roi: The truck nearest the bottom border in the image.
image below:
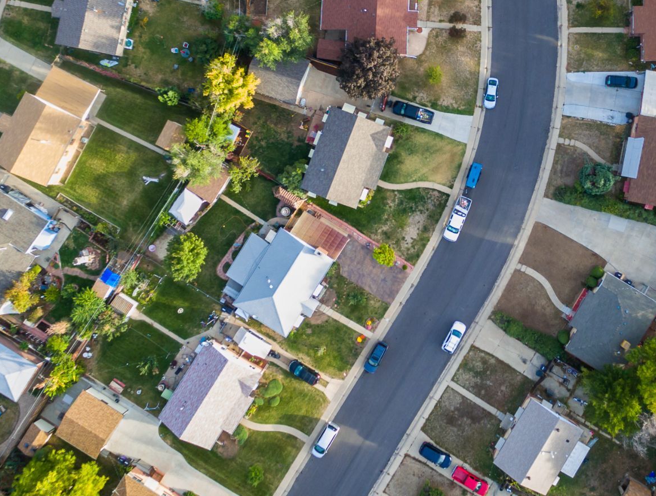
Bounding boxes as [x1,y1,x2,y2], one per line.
[450,465,491,495]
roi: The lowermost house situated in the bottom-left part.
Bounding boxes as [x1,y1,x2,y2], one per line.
[104,457,182,496]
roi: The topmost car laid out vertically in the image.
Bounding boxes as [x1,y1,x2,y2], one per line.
[483,77,498,109]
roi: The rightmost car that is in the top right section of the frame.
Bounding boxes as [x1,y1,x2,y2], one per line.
[605,74,638,90]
